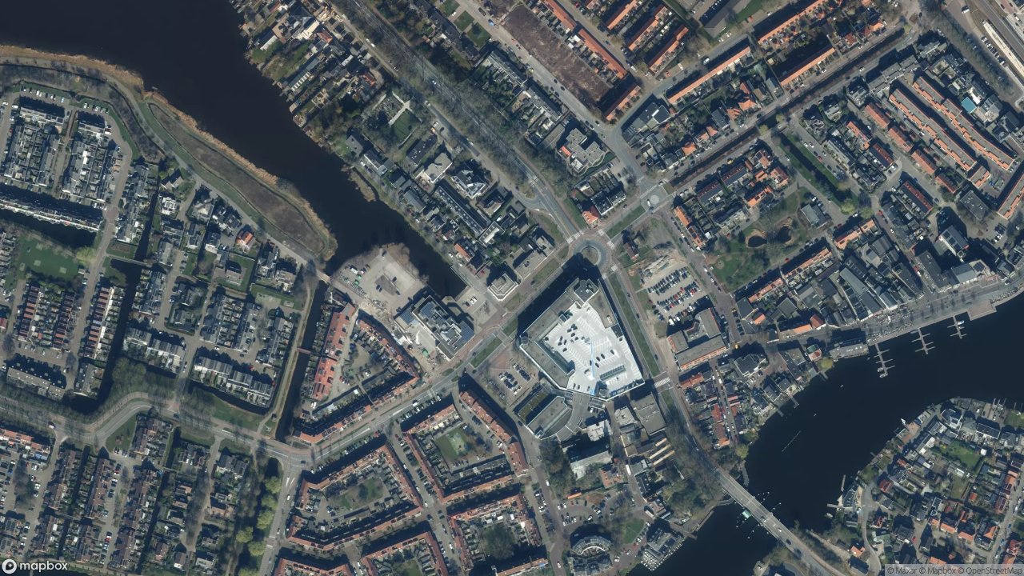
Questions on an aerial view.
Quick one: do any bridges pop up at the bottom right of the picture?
Yes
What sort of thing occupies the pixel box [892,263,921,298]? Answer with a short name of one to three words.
house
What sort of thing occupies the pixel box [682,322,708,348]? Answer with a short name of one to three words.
building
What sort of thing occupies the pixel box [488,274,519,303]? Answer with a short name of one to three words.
building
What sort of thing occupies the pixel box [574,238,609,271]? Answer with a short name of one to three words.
roundabout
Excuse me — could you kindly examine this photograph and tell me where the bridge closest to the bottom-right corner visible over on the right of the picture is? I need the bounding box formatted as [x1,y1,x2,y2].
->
[720,471,820,569]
